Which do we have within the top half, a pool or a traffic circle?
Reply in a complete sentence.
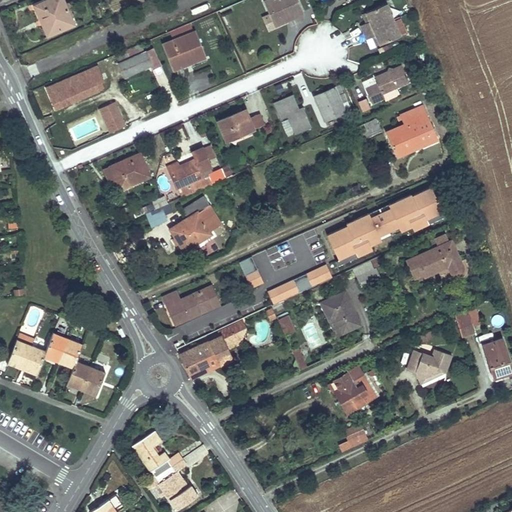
Looking within the top half, you will find a pool.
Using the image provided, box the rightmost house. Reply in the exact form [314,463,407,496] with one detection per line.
[482,339,512,381]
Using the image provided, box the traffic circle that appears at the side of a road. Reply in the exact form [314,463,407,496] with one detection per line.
[132,348,185,399]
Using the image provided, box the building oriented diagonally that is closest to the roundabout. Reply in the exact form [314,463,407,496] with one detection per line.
[179,319,250,376]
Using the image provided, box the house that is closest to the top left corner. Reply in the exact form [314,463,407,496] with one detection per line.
[28,0,78,38]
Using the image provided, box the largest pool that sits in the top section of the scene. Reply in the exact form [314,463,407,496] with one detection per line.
[66,109,108,146]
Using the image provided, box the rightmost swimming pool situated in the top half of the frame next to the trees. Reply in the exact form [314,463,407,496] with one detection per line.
[157,173,171,192]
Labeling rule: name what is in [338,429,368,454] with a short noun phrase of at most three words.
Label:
shed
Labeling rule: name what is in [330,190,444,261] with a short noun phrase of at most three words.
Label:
building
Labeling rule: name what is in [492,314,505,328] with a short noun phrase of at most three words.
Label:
swimming pool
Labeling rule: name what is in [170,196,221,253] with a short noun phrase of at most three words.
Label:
house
